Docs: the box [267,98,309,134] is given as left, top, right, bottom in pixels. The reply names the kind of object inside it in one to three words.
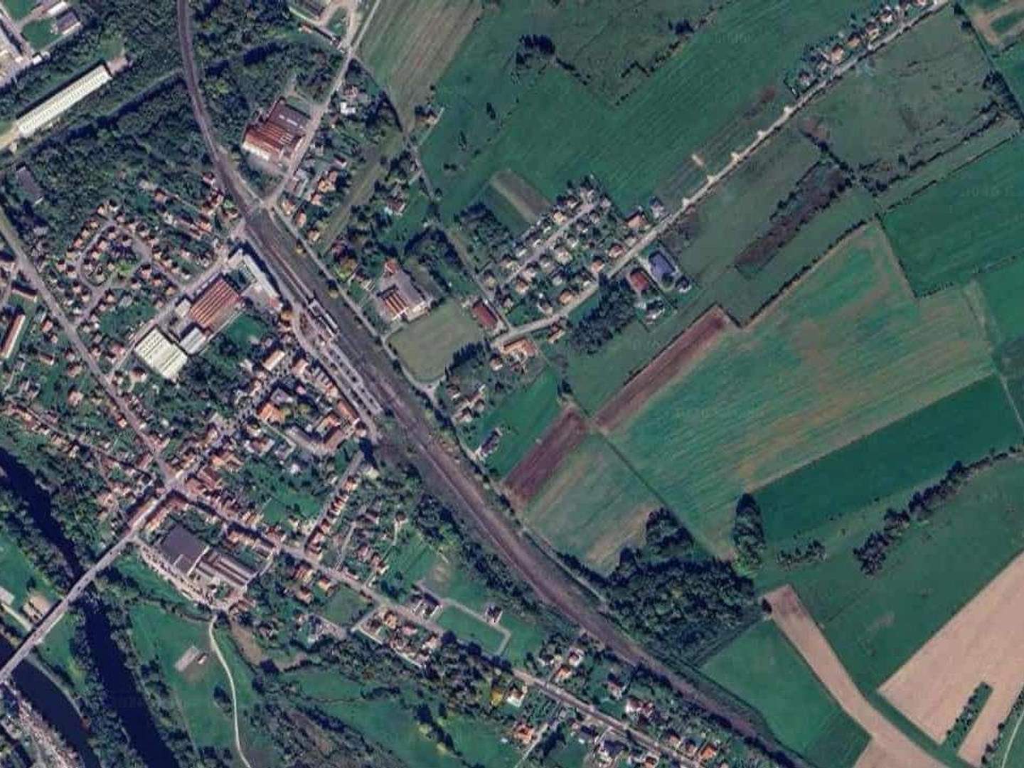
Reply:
building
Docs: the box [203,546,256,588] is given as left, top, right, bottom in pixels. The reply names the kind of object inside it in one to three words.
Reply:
building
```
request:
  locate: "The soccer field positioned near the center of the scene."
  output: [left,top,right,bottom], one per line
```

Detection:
[389,297,485,384]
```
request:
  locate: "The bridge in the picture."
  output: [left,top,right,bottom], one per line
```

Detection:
[0,537,128,680]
